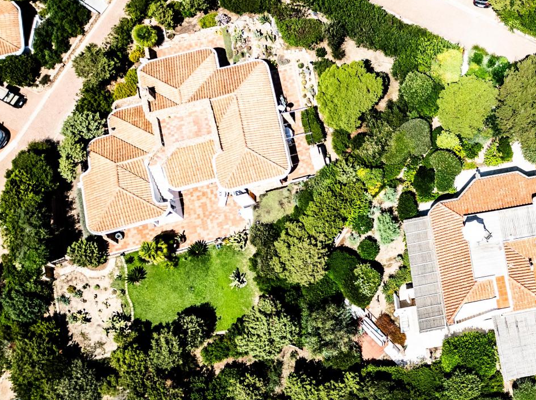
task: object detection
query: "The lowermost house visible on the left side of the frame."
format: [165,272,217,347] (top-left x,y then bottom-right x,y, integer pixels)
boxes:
[80,46,293,234]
